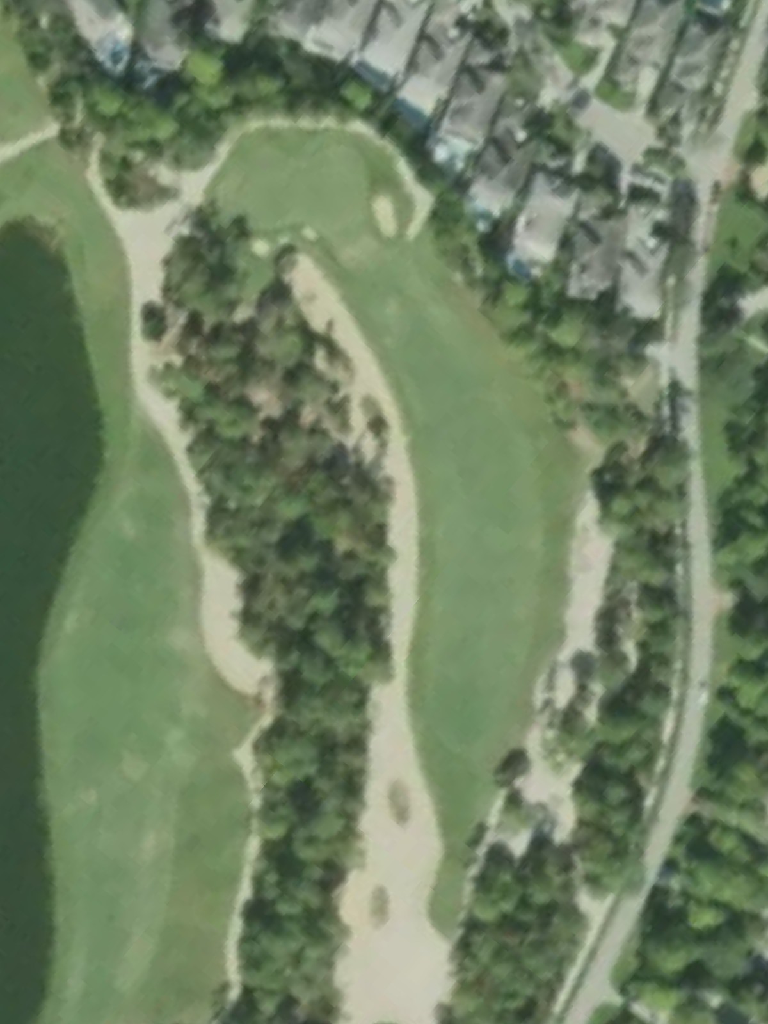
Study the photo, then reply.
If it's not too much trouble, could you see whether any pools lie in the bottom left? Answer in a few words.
No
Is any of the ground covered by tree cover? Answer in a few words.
Yes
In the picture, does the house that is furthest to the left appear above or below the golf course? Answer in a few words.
above it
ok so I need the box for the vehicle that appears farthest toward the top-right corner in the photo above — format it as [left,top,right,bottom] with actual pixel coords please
[573,91,587,110]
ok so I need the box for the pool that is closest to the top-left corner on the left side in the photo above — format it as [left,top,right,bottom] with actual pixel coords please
[94,31,131,74]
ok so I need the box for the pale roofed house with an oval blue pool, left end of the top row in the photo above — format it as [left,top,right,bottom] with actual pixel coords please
[64,0,134,48]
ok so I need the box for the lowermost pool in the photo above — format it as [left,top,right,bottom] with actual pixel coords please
[509,249,544,283]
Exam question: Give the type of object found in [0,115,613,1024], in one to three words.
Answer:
golf course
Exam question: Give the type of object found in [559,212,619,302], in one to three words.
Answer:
house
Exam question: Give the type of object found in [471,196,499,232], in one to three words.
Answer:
swimming pool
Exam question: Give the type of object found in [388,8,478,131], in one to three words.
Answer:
house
